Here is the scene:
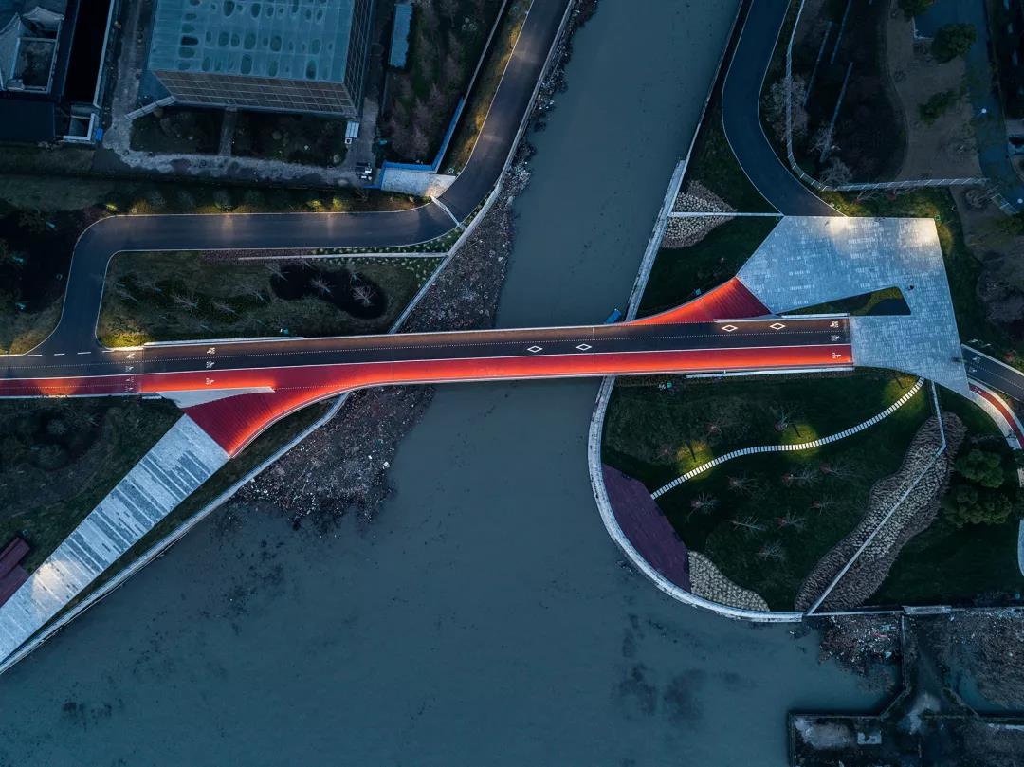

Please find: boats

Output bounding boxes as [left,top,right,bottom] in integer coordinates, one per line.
[607,308,622,323]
